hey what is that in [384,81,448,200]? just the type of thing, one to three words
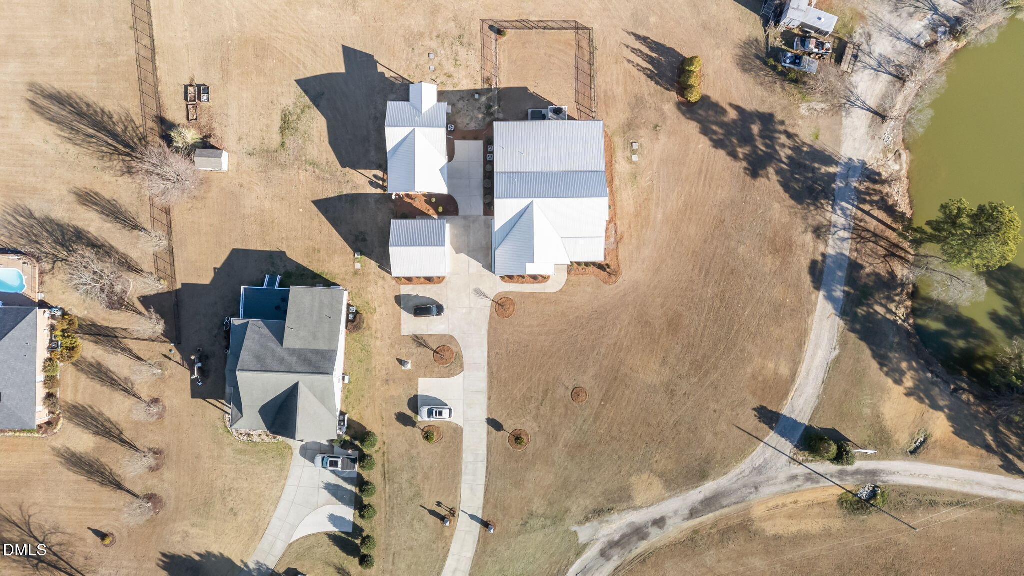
house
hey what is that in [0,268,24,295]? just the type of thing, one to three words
swimming pool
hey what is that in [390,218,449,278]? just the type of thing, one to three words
building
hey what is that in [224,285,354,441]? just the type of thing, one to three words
house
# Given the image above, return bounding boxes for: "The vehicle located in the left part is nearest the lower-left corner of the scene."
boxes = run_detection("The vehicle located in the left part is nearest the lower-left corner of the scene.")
[315,453,357,471]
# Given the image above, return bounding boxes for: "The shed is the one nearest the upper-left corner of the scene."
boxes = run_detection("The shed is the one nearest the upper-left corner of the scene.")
[193,148,229,176]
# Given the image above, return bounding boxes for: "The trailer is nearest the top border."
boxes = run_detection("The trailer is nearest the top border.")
[791,0,848,41]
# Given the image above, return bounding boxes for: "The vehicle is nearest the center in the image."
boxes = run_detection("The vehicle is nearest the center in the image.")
[413,302,443,317]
